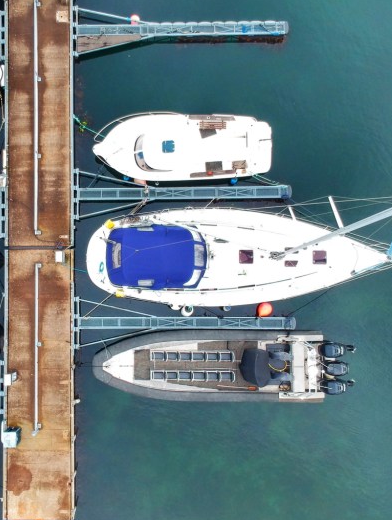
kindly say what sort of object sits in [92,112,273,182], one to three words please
boat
